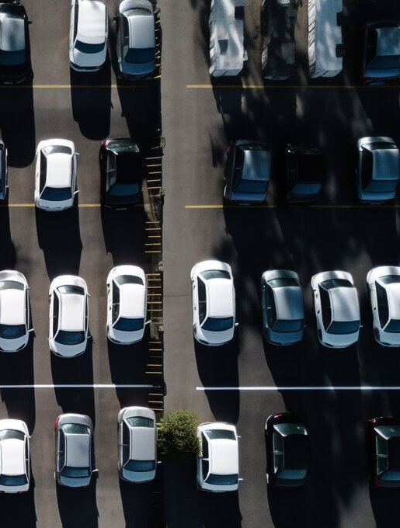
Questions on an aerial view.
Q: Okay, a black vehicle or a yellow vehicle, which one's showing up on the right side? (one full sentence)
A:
The one visible on the right side is a black vehicle.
